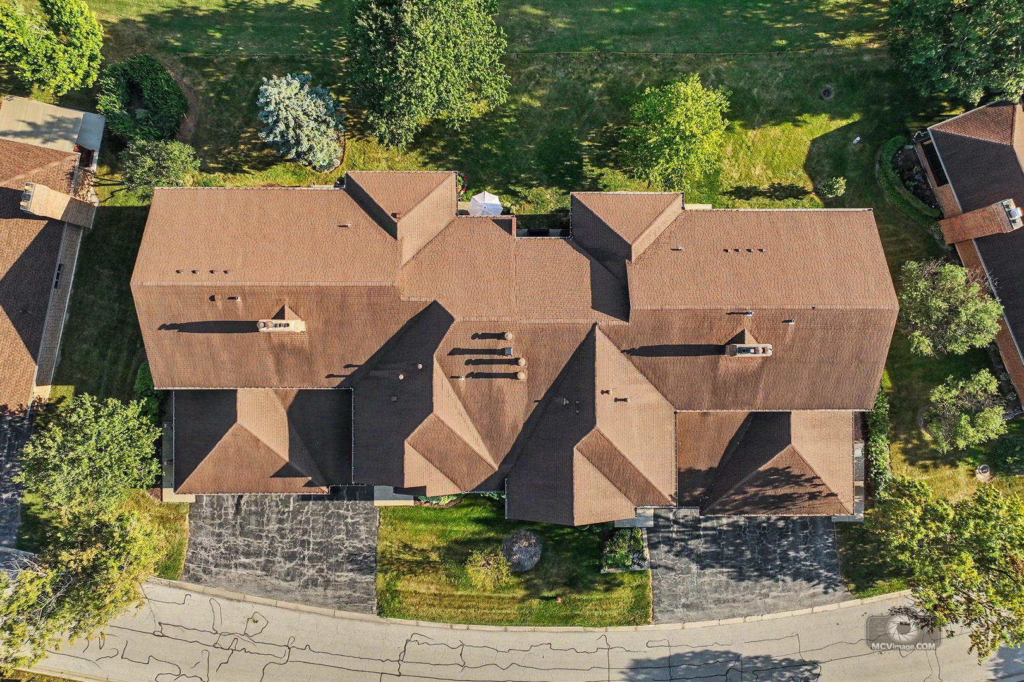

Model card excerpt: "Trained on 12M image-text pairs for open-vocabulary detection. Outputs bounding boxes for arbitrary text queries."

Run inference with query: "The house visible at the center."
[129,169,898,526]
